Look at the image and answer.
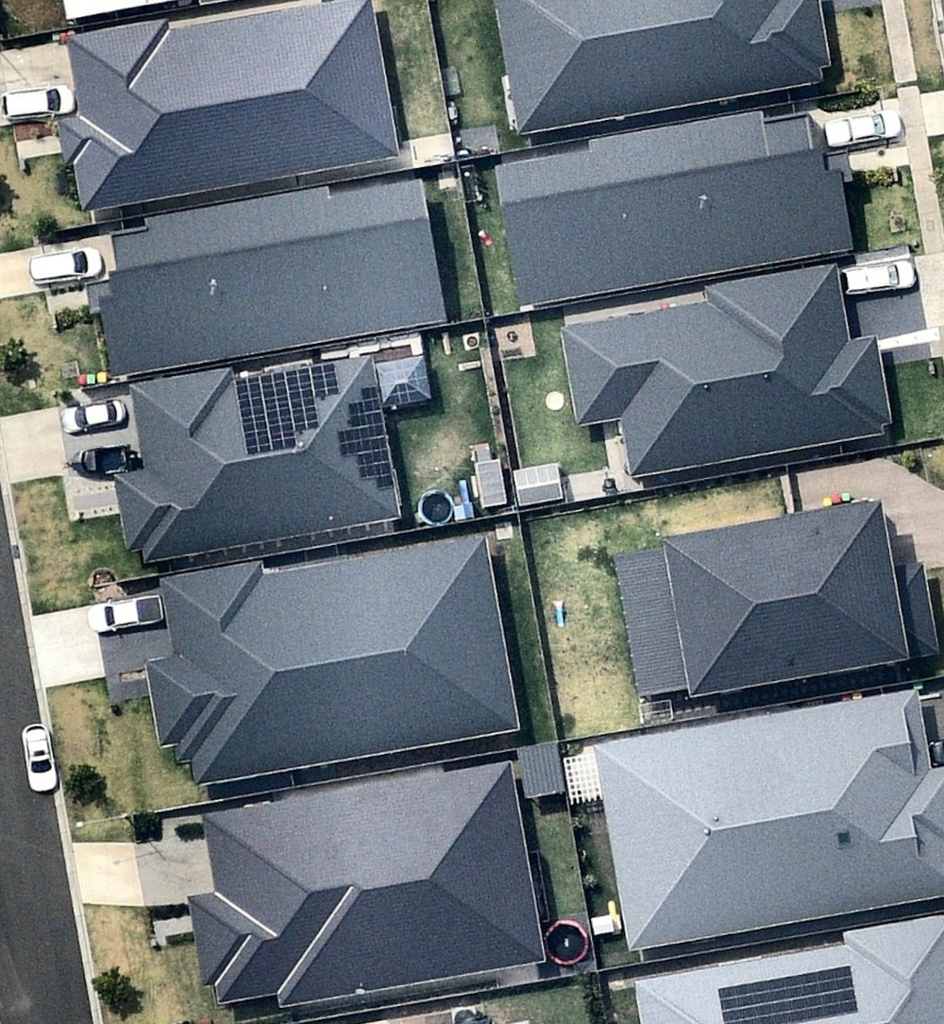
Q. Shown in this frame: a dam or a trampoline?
trampoline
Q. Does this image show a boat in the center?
No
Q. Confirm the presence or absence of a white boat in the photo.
No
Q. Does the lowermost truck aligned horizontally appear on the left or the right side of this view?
left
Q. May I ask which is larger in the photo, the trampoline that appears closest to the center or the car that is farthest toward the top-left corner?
the car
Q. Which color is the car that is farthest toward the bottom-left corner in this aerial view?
white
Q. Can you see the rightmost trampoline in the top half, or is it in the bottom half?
bottom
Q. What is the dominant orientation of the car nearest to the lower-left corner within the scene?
from top to bottom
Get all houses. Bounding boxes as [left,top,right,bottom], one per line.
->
[562,262,894,478]
[186,761,546,1010]
[594,690,944,953]
[144,534,521,787]
[56,0,398,209]
[113,355,401,561]
[496,0,832,135]
[635,915,944,1024]
[63,0,177,19]
[496,111,854,309]
[612,500,941,699]
[86,178,446,377]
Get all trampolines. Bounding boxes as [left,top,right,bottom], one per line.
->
[418,489,453,526]
[546,920,590,966]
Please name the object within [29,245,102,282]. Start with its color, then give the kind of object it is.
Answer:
white car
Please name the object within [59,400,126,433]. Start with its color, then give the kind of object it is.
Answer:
white car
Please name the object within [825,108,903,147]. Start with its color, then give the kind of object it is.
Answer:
white truck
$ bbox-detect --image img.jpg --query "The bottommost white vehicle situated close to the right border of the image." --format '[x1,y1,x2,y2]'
[843,257,918,294]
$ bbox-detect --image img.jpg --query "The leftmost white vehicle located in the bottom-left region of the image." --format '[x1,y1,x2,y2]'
[22,724,57,793]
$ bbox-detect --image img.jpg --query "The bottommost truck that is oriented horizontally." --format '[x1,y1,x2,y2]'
[87,596,164,633]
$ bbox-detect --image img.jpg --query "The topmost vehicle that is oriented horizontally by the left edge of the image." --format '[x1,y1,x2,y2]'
[1,84,74,119]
